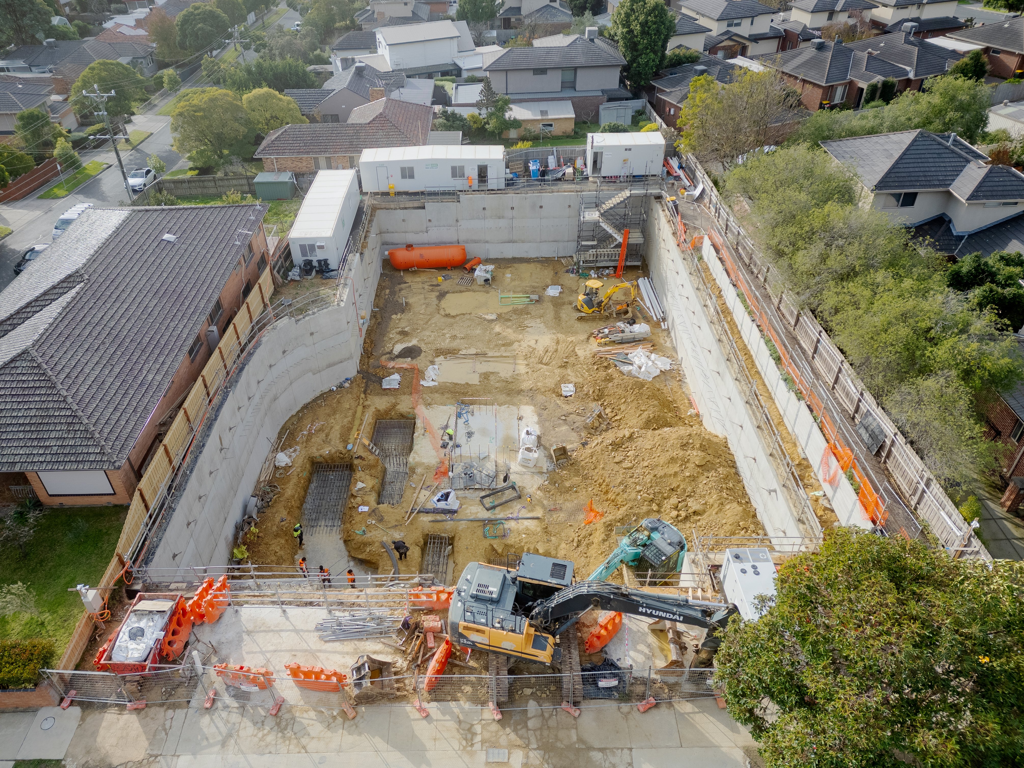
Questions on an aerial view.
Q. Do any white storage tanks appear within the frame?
No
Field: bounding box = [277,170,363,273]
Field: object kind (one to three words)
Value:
shed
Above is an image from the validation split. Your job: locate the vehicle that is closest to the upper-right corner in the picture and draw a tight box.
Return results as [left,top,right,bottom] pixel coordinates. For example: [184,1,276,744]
[569,280,637,321]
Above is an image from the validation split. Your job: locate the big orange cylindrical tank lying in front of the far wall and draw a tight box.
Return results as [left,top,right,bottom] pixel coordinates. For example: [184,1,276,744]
[388,242,466,276]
